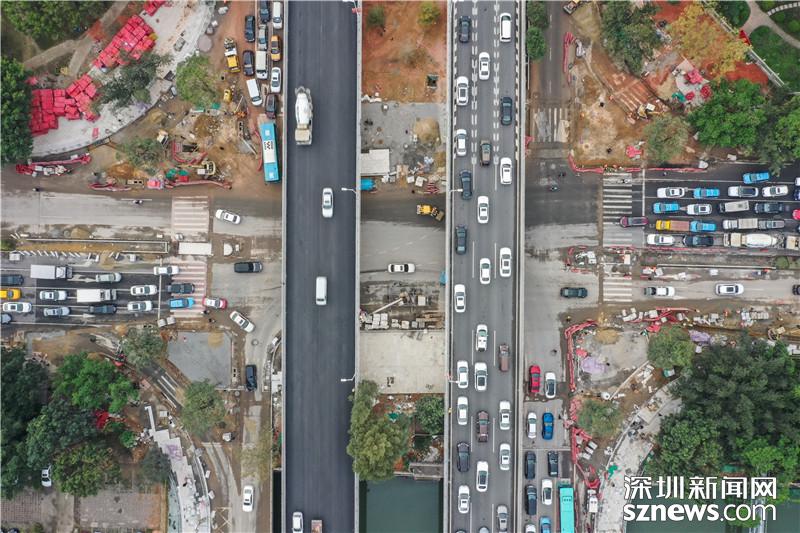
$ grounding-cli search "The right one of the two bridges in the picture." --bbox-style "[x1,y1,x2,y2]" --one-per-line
[444,0,526,533]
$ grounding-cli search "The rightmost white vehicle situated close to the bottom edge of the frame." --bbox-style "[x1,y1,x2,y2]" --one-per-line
[587,489,601,513]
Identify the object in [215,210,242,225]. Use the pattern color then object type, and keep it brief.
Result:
white car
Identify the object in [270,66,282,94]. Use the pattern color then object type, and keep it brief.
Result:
white vehicle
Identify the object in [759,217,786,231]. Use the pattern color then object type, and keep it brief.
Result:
gray vehicle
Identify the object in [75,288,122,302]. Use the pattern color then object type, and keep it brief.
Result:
white vehicle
